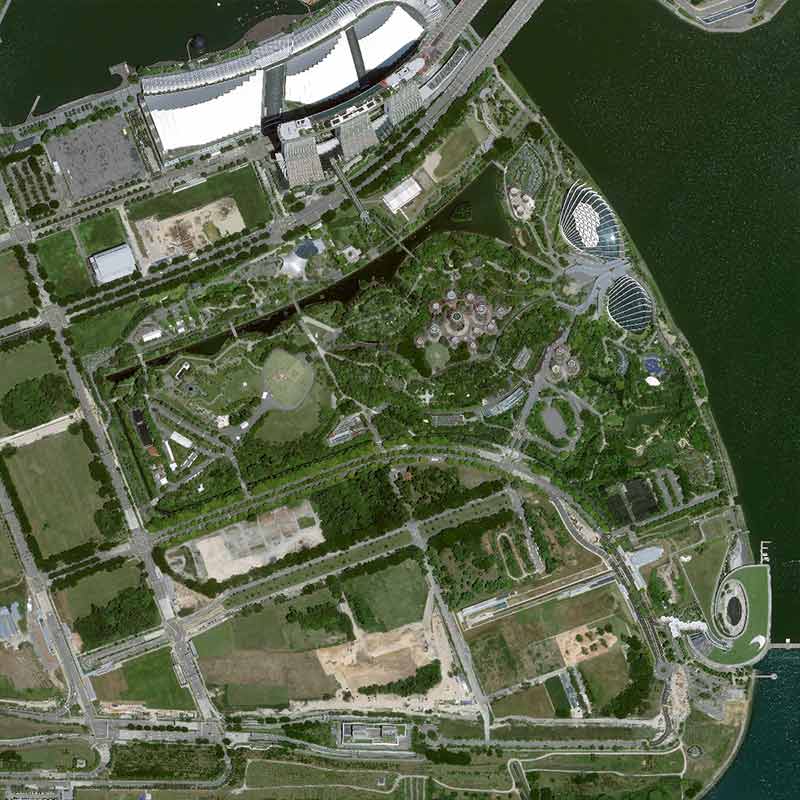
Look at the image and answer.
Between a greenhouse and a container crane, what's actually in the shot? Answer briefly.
greenhouse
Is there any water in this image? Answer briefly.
Yes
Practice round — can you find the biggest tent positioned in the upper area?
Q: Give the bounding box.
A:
[280,254,307,280]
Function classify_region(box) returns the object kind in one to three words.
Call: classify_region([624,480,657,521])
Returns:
building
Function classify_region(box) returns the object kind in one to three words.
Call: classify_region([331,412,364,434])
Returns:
building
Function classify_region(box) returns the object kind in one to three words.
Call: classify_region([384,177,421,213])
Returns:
shed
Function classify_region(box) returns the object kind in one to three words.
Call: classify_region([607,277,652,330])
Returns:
greenhouse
